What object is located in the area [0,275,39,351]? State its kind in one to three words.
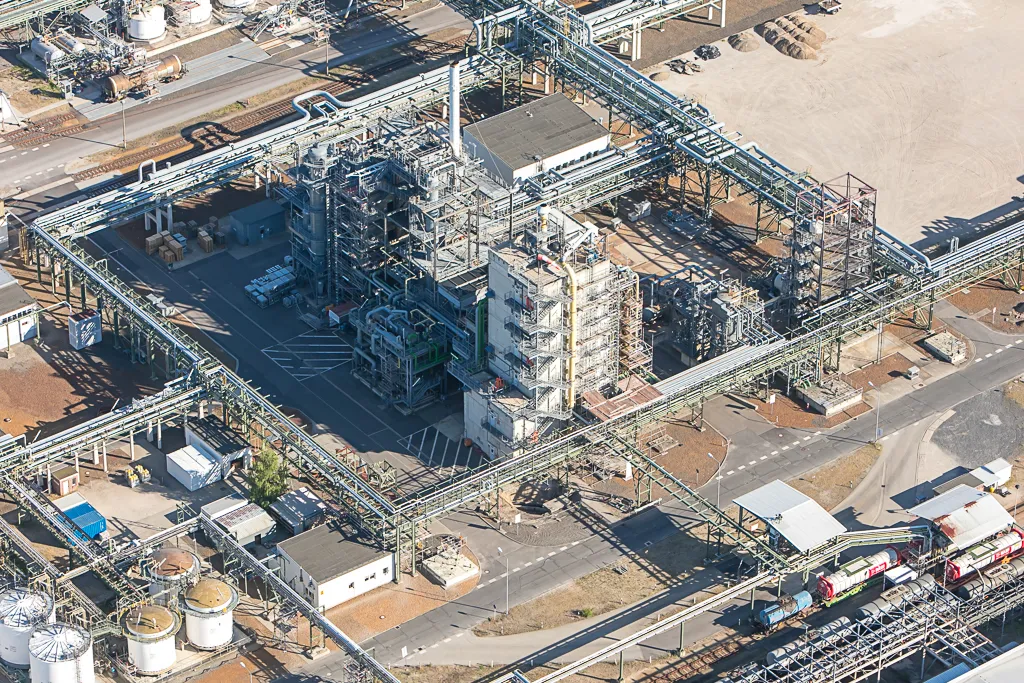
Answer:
building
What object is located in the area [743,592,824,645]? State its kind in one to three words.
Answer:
rail car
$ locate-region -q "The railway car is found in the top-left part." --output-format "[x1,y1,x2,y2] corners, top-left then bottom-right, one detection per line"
[99,45,197,99]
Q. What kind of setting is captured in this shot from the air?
industrial area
